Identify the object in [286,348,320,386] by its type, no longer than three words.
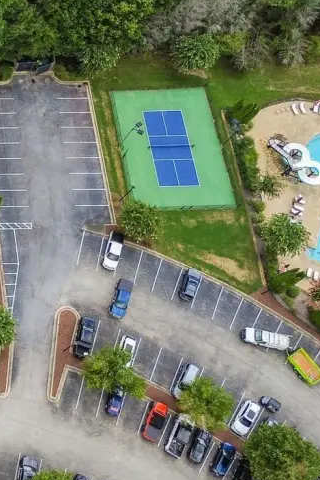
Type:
trailer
